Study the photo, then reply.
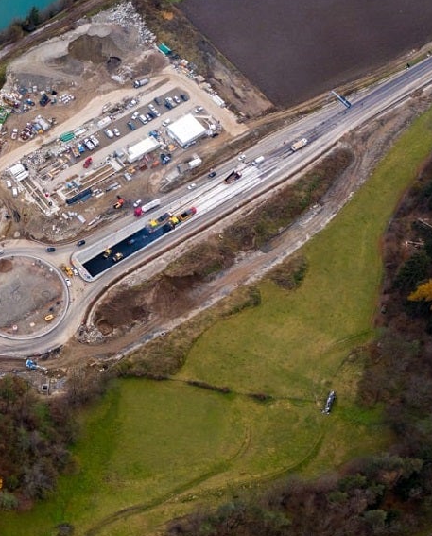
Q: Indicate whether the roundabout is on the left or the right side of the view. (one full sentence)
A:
You can find the roundabout on the left side of the picture.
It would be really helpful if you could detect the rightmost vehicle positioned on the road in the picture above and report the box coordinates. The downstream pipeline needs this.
[292,136,309,149]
